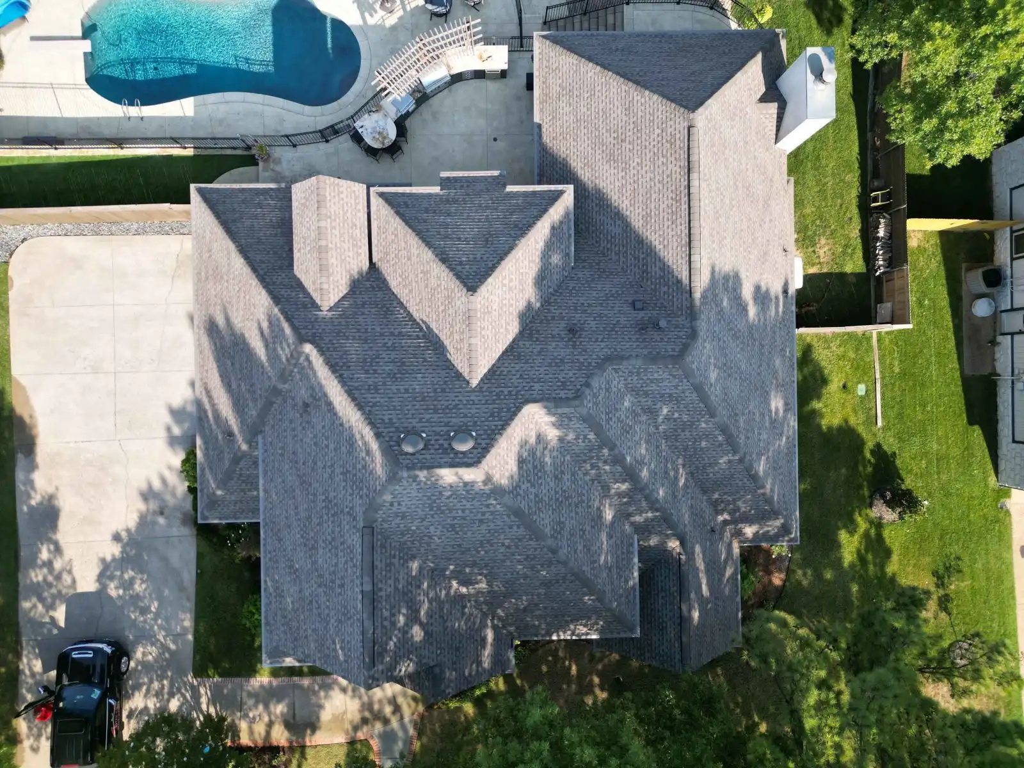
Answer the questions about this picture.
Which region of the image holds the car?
bottom left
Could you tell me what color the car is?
black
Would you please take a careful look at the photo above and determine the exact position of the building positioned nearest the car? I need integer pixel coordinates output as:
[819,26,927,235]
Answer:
[189,27,835,710]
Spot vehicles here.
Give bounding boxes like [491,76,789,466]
[33,634,127,768]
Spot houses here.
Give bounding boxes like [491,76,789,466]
[189,27,835,710]
[988,139,1024,505]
